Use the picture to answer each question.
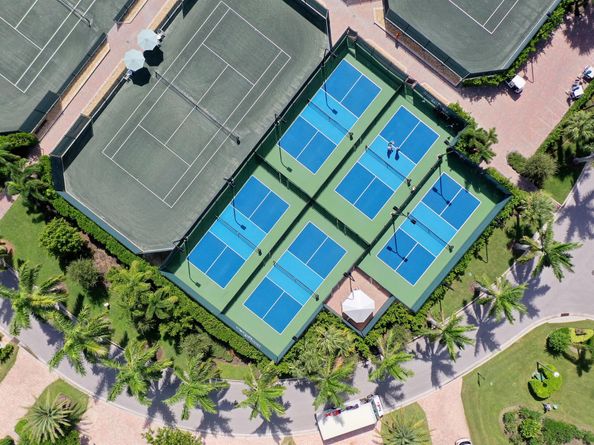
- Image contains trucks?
Yes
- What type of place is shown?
sports ground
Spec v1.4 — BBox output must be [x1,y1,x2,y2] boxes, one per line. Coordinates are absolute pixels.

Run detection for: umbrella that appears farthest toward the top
[137,29,158,51]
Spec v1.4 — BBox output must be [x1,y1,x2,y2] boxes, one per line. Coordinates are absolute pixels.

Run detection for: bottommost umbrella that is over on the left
[124,49,146,71]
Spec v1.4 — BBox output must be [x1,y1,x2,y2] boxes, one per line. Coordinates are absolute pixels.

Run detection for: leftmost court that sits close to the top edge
[0,0,128,135]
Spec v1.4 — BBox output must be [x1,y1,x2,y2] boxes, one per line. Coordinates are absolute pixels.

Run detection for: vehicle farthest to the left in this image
[312,393,389,442]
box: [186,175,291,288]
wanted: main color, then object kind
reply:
blue sports court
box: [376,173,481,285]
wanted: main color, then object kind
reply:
blue sports court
